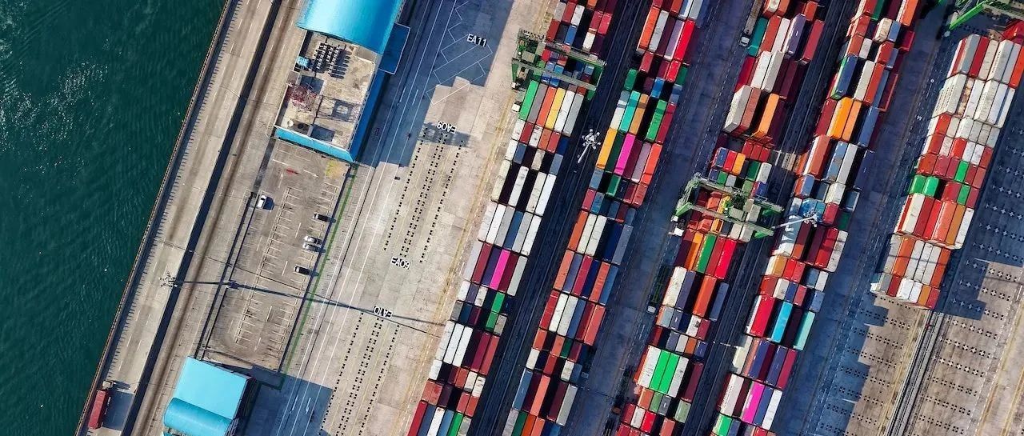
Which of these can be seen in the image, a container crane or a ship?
container crane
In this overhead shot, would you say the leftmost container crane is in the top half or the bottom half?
top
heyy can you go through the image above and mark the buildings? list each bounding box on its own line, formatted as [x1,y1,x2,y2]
[273,0,412,162]
[157,356,259,436]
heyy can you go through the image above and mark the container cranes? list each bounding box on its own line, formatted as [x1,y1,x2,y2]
[506,29,607,112]
[942,0,1024,50]
[668,175,784,244]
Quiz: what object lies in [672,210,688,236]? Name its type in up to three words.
vehicle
